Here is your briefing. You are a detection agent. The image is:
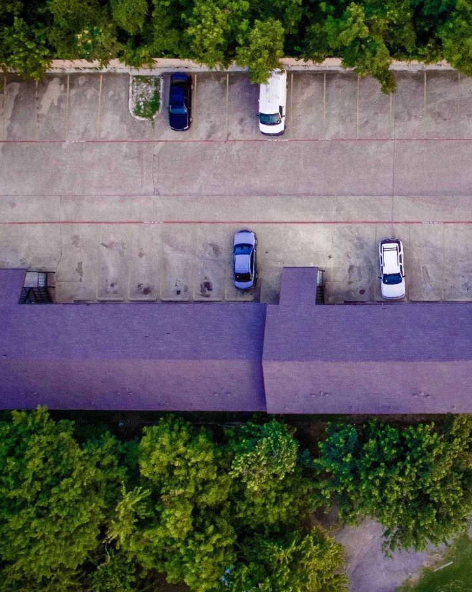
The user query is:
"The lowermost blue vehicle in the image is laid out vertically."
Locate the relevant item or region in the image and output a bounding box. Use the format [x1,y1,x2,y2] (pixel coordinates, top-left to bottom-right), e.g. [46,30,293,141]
[231,231,258,289]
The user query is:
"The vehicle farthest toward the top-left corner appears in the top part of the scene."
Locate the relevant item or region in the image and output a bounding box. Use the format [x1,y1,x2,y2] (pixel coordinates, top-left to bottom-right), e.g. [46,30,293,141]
[167,74,195,131]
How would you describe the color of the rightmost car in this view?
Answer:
white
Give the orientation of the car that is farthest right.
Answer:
from top to bottom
